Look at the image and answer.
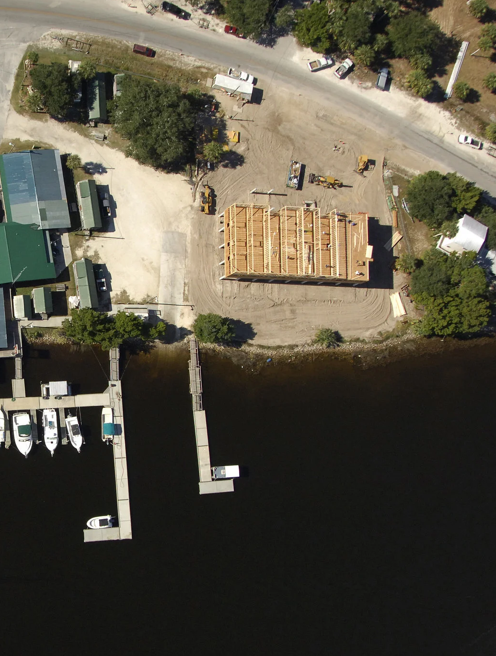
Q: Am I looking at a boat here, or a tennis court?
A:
boat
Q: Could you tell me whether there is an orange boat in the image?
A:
No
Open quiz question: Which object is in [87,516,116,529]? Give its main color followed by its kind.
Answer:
white boat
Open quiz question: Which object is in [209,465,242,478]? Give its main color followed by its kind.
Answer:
white boat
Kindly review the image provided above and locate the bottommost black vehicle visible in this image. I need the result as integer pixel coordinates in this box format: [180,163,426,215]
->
[96,267,109,294]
